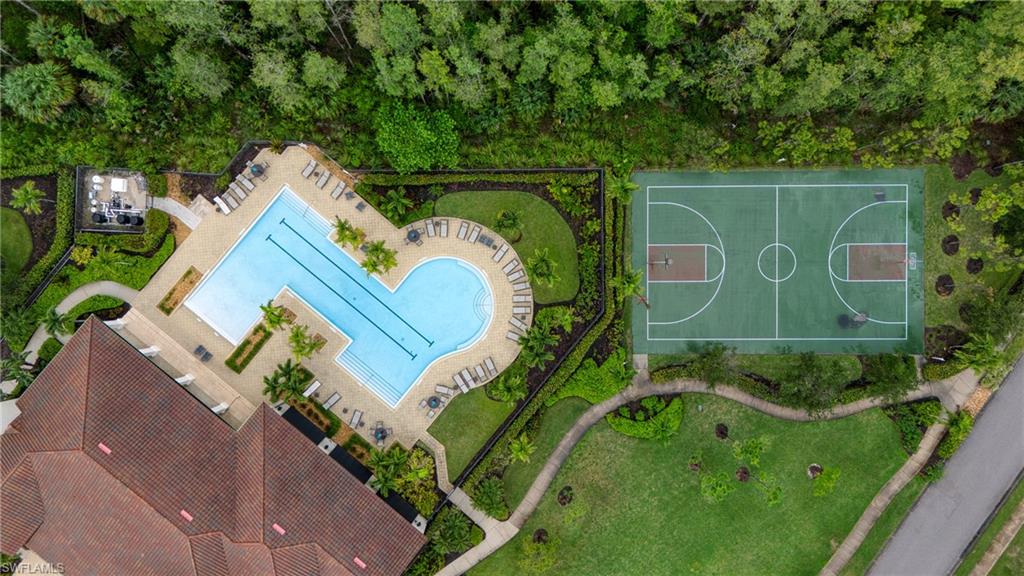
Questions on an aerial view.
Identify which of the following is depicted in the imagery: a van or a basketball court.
basketball court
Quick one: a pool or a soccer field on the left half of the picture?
pool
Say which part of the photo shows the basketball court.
right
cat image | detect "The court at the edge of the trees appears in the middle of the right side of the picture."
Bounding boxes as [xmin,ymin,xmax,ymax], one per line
[632,169,925,355]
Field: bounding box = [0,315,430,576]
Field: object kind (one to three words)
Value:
building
